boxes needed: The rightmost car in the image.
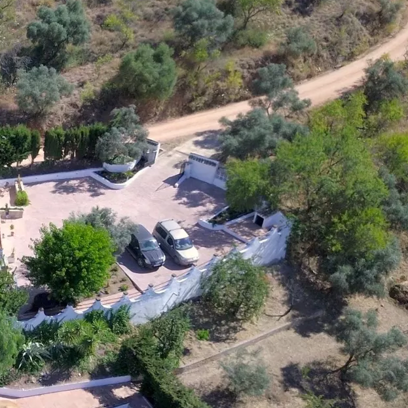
[157,220,198,262]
